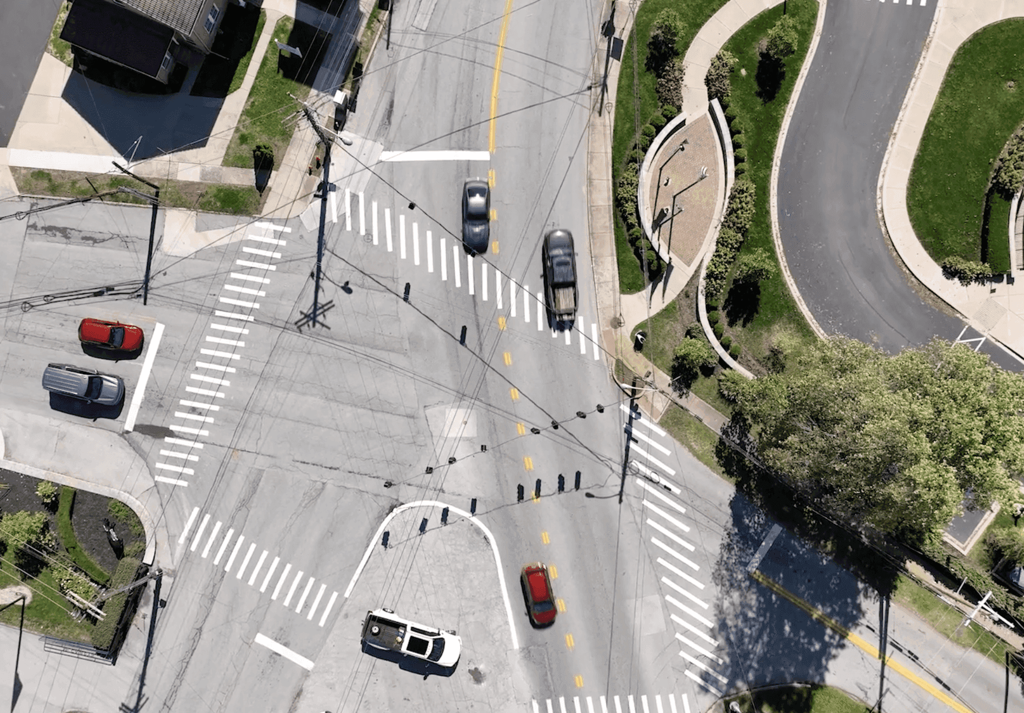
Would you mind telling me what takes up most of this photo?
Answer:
paved ground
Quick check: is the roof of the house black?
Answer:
Yes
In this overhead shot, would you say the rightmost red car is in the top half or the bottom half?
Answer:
bottom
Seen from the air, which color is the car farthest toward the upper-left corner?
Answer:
red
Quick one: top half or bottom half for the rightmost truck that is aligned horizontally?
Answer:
bottom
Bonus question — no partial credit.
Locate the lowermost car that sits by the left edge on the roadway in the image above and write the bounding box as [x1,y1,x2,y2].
[40,361,126,407]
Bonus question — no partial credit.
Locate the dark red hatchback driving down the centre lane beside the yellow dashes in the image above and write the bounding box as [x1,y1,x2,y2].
[520,559,558,626]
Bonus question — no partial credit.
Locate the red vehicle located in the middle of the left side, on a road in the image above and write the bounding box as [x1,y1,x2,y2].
[75,316,145,355]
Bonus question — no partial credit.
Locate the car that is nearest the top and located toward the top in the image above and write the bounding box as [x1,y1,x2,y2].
[457,179,495,254]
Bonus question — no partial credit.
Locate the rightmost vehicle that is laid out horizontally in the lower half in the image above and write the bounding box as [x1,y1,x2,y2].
[362,615,462,671]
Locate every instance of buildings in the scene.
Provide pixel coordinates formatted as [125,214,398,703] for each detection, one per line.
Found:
[55,0,232,82]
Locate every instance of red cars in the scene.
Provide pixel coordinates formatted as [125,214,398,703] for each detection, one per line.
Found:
[520,559,558,626]
[75,316,145,355]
